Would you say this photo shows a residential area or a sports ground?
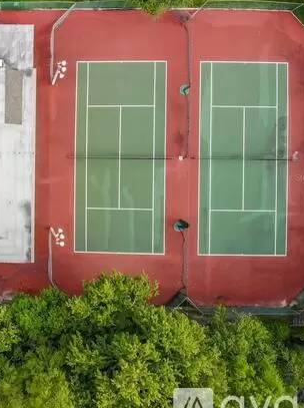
sports ground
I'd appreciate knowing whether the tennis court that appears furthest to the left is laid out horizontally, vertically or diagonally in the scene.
vertically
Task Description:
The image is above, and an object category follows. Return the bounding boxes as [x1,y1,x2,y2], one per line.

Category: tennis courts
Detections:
[197,62,289,255]
[75,61,165,254]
